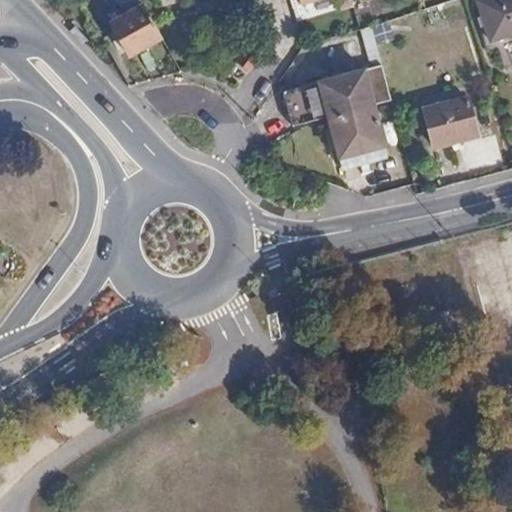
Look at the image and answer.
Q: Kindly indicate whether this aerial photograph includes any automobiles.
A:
Yes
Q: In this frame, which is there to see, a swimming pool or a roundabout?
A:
roundabout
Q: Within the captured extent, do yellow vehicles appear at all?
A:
No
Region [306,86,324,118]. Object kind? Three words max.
building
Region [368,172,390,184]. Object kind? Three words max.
vehicle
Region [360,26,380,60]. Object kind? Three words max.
shed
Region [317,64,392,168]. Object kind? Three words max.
house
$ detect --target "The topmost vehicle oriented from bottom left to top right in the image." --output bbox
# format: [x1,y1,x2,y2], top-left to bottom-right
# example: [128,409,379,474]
[254,78,272,102]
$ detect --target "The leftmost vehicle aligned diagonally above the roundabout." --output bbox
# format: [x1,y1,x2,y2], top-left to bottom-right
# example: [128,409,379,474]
[96,94,115,114]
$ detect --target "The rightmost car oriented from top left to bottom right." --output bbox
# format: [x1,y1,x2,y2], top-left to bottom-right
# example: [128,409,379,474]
[198,110,219,128]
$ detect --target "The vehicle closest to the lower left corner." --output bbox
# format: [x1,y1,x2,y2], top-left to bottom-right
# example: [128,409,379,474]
[37,267,54,288]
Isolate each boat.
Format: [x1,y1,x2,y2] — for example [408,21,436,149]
[383,120,398,148]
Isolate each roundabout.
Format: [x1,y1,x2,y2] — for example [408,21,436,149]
[98,161,257,322]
